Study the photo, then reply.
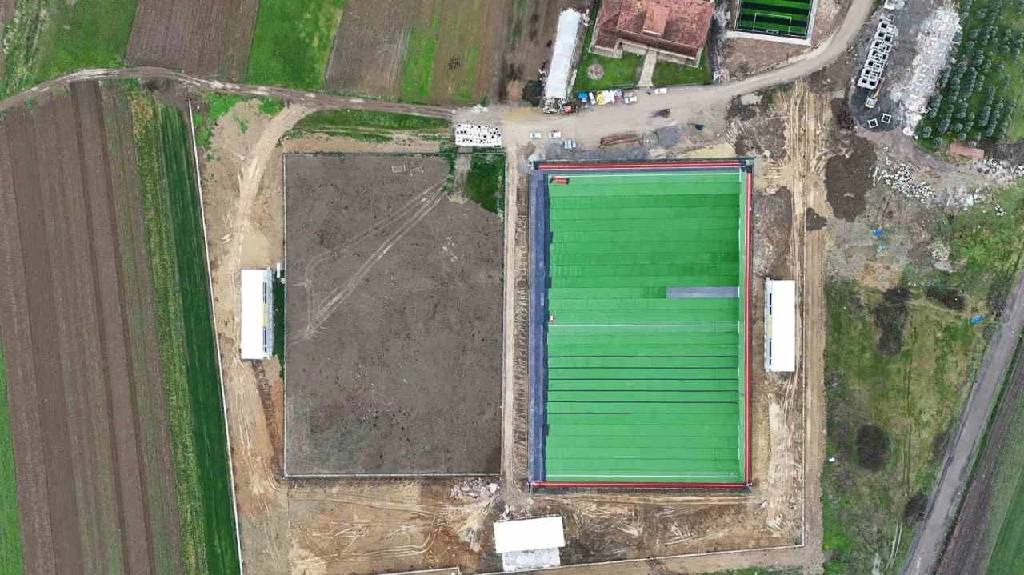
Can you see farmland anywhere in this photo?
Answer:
Yes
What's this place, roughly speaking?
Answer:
sports ground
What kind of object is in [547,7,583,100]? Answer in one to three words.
greenhouse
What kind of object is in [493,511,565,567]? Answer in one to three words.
building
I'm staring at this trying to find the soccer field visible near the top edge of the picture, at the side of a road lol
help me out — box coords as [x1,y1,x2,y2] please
[723,0,820,47]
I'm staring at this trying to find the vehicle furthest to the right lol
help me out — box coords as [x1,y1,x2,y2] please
[865,82,884,109]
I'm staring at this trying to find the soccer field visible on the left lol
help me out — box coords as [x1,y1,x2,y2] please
[284,152,504,478]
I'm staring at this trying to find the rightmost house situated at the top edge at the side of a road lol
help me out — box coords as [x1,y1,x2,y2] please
[592,0,716,68]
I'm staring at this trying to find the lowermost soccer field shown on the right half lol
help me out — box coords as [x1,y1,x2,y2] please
[530,161,752,488]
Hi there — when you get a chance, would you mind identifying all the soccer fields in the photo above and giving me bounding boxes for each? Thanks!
[723,0,820,47]
[530,161,752,488]
[284,152,504,478]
